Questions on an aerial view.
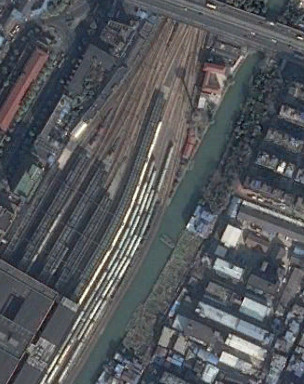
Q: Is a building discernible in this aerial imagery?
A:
Yes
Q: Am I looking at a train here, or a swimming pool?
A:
train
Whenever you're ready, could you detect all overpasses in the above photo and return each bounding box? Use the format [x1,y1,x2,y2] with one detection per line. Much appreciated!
[124,0,304,72]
